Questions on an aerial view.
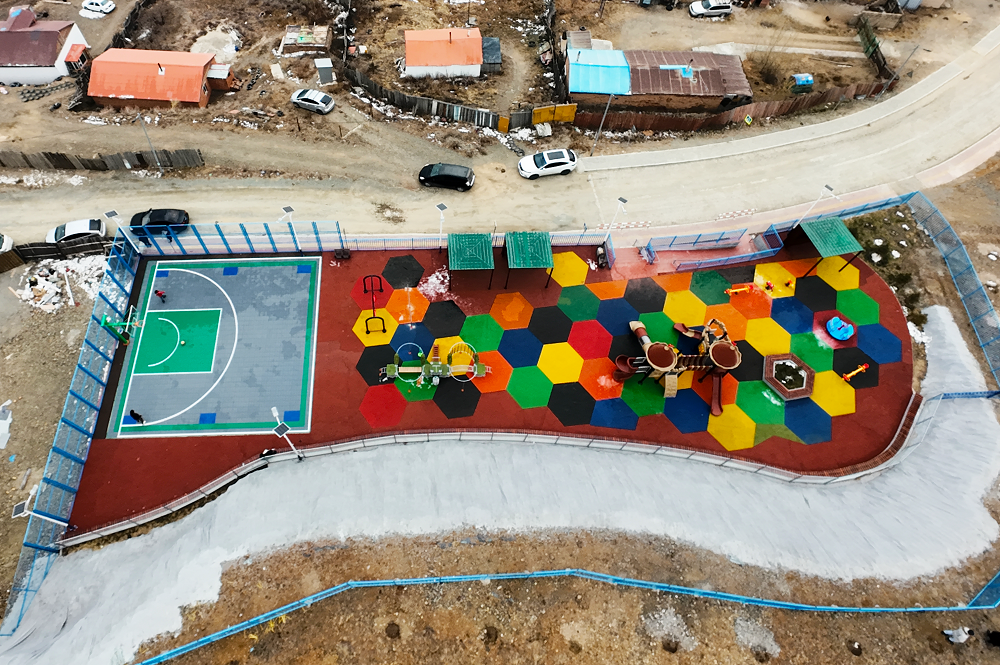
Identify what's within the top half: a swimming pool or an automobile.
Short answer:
automobile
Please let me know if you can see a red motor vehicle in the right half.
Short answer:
No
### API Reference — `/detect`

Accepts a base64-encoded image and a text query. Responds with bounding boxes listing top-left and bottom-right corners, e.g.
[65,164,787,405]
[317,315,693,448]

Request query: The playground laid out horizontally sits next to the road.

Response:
[63,228,922,538]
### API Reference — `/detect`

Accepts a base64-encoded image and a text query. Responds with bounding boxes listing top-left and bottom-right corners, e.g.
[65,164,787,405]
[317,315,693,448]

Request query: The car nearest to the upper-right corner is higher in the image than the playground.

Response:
[688,0,733,23]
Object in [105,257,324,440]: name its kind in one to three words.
basketball court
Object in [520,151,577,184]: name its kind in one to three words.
car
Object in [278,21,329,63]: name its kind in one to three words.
shed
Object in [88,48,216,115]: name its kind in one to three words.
house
